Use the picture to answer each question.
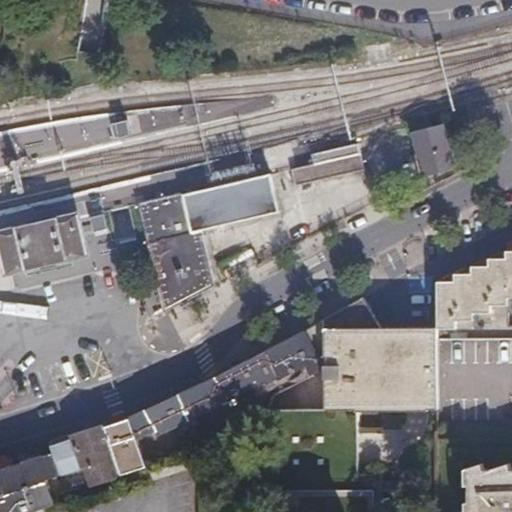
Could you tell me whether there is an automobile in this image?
Yes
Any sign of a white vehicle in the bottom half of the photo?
Yes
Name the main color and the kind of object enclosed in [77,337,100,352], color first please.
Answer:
gray car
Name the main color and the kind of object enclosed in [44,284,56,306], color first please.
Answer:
white vehicle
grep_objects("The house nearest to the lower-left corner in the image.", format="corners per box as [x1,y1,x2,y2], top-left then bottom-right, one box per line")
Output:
[0,452,60,496]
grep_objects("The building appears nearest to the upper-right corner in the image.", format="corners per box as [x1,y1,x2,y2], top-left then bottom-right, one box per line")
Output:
[410,124,456,179]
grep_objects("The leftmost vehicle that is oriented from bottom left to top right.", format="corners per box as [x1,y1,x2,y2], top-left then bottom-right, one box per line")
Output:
[18,352,37,372]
